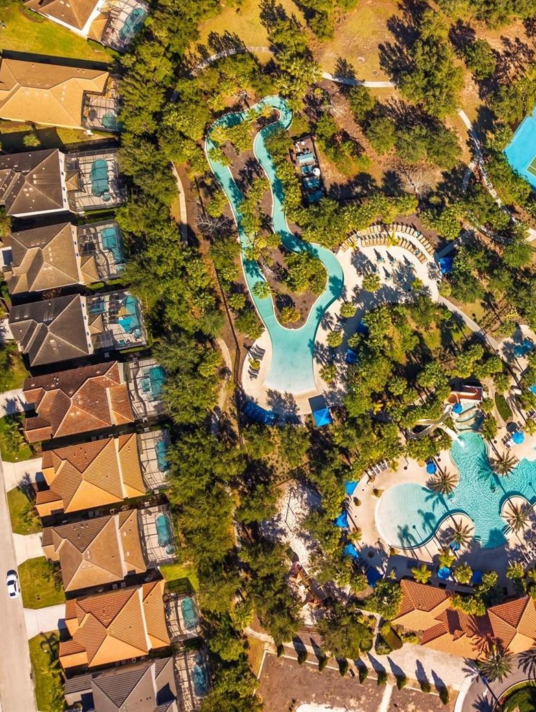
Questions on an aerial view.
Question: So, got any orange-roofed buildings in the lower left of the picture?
Yes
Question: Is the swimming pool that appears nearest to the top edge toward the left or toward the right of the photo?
left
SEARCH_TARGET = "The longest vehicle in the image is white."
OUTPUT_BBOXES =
[6,573,19,596]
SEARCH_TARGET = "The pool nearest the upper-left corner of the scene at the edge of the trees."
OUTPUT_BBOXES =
[123,10,145,35]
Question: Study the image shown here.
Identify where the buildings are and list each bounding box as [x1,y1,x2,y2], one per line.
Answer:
[389,579,536,663]
[24,0,118,35]
[4,222,89,294]
[9,294,101,367]
[42,509,150,592]
[35,434,149,517]
[0,58,113,131]
[23,360,138,443]
[59,579,174,668]
[0,148,76,219]
[63,655,188,712]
